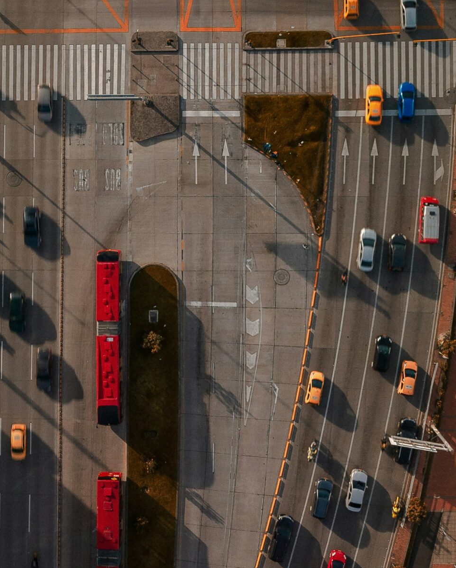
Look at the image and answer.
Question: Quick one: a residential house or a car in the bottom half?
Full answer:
What appears in the bottom half is a car.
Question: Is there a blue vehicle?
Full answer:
Yes, the picture does show a blue vehicle.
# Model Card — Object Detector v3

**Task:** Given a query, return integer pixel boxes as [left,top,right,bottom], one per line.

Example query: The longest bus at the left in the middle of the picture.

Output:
[95,252,124,425]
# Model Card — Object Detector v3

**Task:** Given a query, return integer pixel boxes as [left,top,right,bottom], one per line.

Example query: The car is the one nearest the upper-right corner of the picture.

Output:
[398,0,419,31]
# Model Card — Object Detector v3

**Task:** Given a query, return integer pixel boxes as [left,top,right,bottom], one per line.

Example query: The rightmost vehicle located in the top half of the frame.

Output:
[414,195,443,245]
